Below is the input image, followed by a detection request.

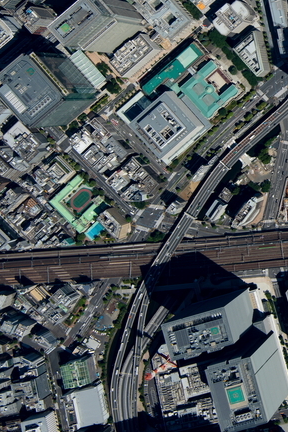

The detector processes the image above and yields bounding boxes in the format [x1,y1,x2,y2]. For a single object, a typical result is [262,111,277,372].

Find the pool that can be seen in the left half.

[84,222,104,240]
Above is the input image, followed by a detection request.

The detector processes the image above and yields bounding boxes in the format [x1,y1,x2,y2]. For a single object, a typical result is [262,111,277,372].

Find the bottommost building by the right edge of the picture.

[206,332,288,432]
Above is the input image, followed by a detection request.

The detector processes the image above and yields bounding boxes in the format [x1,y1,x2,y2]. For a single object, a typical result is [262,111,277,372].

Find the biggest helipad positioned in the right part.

[227,389,243,405]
